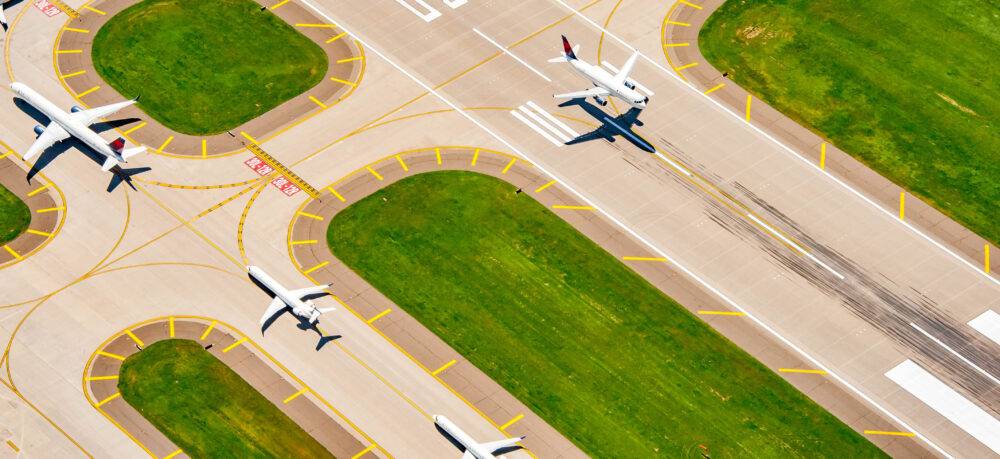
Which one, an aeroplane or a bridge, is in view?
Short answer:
aeroplane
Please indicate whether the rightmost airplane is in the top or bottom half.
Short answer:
top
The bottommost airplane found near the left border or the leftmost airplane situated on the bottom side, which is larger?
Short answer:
the bottommost airplane found near the left border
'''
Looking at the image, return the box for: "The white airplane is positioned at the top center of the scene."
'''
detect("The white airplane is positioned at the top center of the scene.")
[551,37,646,111]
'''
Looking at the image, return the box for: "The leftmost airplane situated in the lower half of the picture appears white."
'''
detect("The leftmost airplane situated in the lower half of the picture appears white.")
[247,268,336,325]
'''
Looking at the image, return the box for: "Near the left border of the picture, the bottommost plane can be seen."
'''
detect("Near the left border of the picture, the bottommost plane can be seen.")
[10,84,147,170]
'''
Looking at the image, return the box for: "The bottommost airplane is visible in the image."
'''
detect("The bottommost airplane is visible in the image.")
[434,417,527,459]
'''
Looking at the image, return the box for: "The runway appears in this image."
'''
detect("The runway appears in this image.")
[287,0,1000,459]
